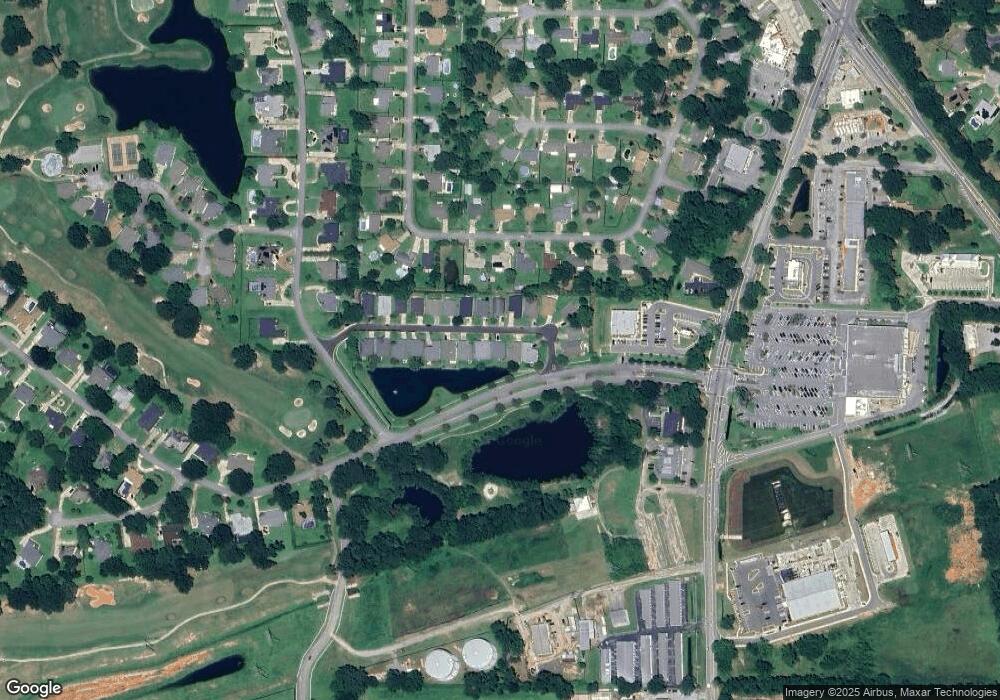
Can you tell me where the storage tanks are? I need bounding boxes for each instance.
[423,650,458,682]
[462,638,499,672]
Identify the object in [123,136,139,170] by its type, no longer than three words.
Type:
tennis court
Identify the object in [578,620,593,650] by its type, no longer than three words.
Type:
building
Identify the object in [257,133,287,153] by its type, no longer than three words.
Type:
house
